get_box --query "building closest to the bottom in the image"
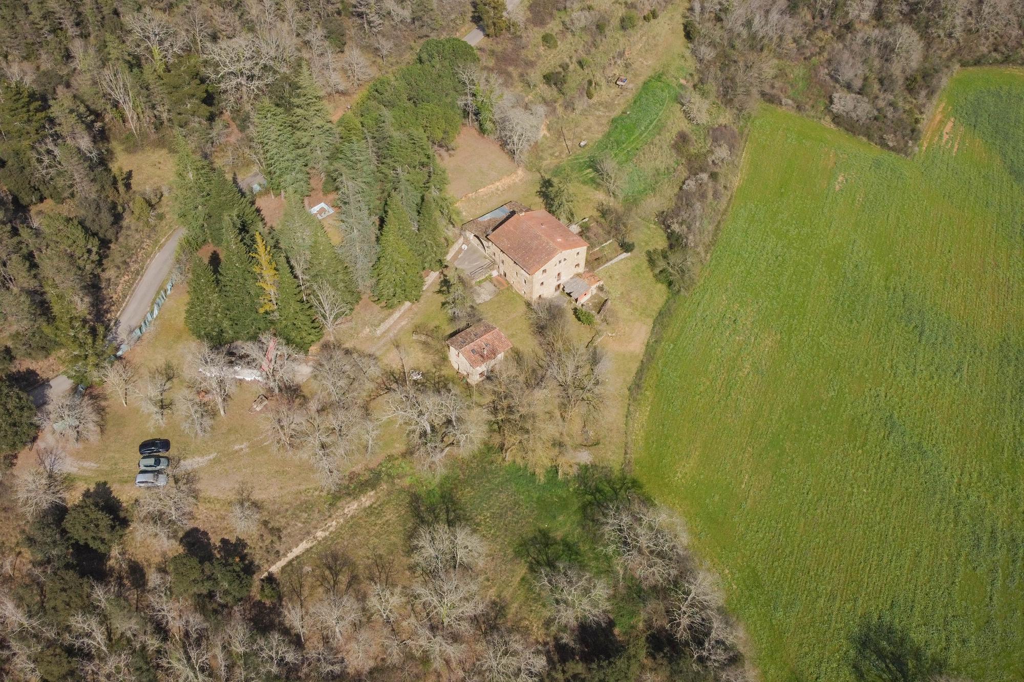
[440,323,505,390]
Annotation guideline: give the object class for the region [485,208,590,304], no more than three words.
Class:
house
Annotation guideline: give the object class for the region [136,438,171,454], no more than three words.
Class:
car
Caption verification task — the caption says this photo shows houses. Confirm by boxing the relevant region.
[485,208,590,304]
[440,323,505,390]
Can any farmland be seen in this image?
Yes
